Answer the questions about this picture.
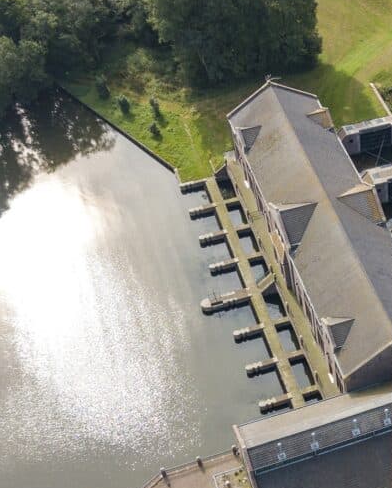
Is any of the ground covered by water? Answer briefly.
Yes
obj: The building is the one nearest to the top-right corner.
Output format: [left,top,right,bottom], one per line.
[225,70,392,394]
